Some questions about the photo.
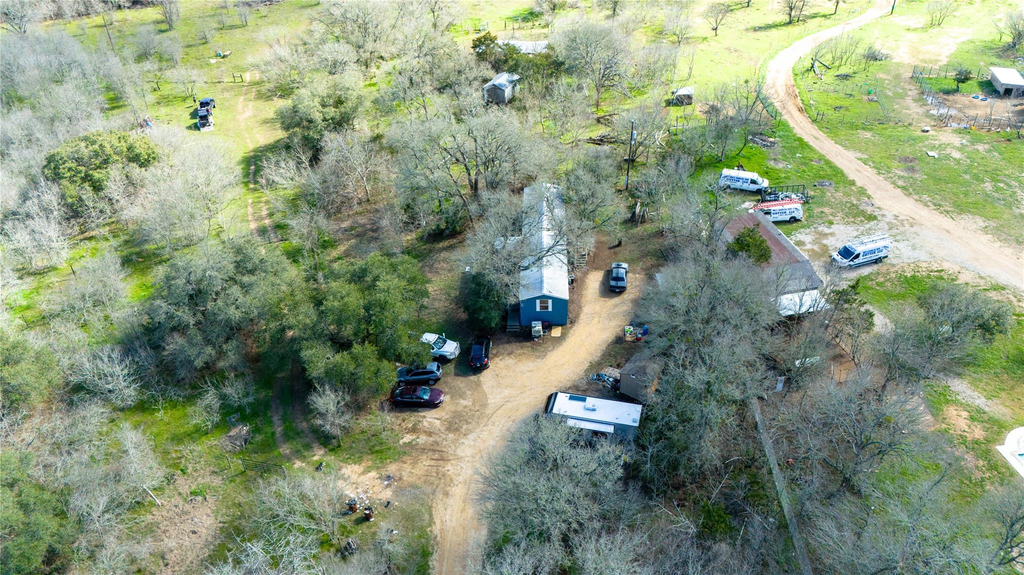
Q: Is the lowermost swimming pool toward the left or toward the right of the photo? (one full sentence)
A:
The lowermost swimming pool sits on the right side.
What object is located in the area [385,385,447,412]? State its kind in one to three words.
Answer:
car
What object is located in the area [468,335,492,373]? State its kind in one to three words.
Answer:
car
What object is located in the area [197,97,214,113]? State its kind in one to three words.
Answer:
vehicle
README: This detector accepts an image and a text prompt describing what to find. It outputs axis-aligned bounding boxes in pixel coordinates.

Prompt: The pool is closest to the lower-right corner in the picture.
[996,424,1024,471]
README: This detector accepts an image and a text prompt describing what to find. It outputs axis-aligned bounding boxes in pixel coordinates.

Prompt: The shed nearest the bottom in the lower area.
[619,350,681,409]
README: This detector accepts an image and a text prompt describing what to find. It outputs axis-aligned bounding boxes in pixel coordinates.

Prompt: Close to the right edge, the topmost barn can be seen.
[983,67,1024,101]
